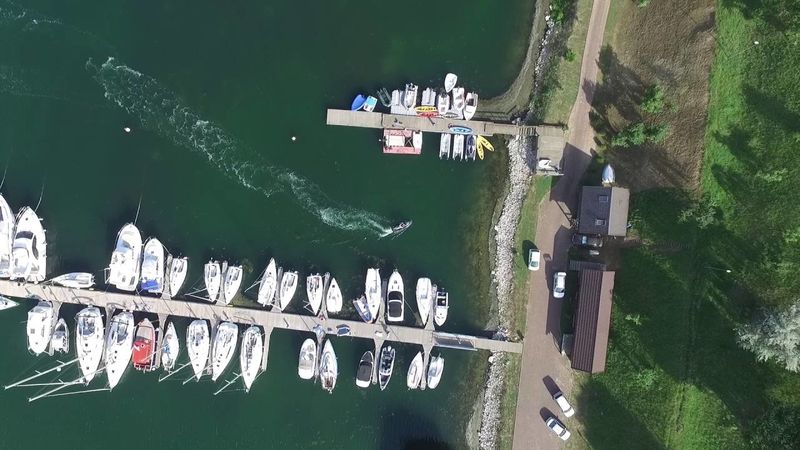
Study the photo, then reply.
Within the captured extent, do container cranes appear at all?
No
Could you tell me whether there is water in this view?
Yes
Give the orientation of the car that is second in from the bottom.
diagonally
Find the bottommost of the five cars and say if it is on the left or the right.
right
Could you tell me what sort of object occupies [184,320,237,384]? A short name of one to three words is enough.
boat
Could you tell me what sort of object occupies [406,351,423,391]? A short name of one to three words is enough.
boat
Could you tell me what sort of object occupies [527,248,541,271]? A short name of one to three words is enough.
car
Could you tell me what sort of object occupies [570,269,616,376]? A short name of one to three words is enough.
shed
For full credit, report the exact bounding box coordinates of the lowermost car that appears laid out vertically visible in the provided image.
[552,271,566,299]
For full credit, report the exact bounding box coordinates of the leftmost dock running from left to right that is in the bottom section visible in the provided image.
[0,255,439,389]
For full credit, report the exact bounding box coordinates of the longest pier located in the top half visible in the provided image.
[327,109,538,137]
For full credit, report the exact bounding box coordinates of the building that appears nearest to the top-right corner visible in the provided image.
[575,186,631,237]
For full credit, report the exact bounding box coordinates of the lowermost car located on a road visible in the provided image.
[545,415,571,441]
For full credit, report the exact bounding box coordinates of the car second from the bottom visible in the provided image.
[552,390,576,418]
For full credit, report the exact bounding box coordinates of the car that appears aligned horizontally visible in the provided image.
[571,234,604,248]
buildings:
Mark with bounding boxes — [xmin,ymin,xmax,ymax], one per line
[575,186,631,237]
[570,269,616,376]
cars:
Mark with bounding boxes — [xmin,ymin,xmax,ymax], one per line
[552,390,576,418]
[527,248,541,271]
[545,415,571,441]
[552,271,566,299]
[571,234,604,248]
